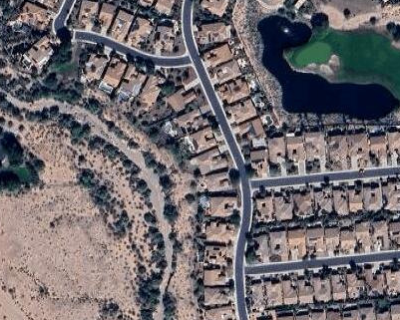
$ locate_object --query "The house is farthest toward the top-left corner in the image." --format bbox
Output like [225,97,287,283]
[20,3,55,24]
